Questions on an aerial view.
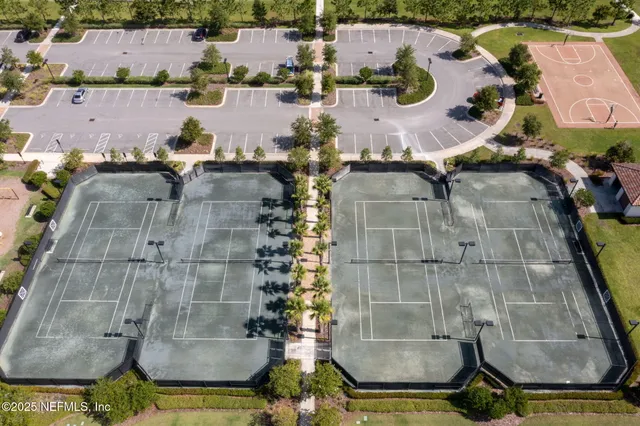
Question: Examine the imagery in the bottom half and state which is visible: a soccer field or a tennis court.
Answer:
tennis court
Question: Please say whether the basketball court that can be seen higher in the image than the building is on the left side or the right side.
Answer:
right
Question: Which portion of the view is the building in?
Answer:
right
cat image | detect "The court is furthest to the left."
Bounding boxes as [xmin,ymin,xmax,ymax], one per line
[0,172,179,386]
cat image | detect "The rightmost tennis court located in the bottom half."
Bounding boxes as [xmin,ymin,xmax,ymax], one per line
[448,171,629,389]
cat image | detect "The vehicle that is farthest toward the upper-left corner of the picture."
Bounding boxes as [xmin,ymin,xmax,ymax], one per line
[13,29,29,42]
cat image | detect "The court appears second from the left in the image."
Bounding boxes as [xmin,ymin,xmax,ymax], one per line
[138,172,294,387]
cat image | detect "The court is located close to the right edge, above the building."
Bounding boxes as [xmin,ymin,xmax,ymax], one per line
[528,42,640,127]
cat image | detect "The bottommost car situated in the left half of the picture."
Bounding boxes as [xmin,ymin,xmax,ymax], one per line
[70,86,86,103]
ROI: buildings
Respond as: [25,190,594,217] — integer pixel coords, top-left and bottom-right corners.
[610,162,640,215]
